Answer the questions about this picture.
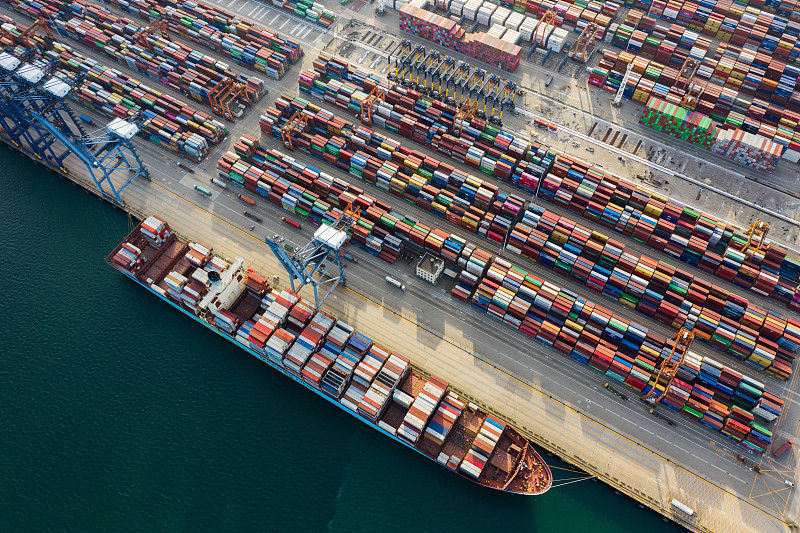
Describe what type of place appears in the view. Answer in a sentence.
It's a port.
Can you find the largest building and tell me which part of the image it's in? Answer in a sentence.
You can find the largest building in the center area of the picture.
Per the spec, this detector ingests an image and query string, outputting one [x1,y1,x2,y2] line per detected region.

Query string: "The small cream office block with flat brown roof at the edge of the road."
[417,250,445,284]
